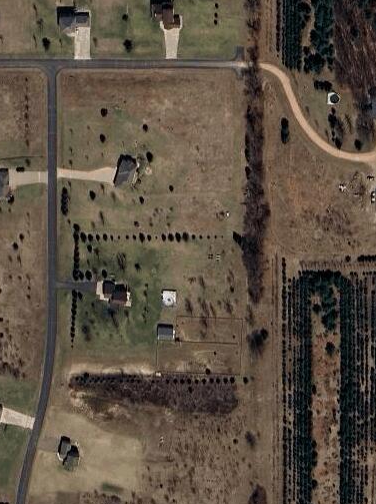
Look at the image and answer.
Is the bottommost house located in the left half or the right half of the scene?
left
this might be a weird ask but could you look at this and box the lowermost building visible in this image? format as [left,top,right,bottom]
[57,439,82,469]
